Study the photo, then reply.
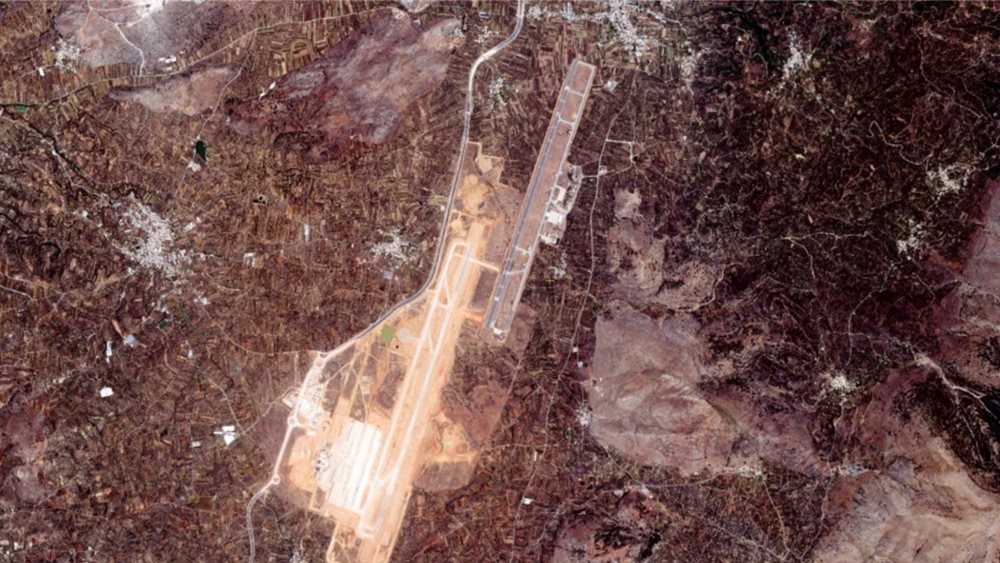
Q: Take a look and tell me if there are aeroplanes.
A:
No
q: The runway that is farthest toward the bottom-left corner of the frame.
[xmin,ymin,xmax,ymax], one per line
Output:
[372,245,473,543]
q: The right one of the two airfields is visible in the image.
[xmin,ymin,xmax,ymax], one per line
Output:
[483,59,600,339]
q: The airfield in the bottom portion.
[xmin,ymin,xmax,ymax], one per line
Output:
[283,141,528,563]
